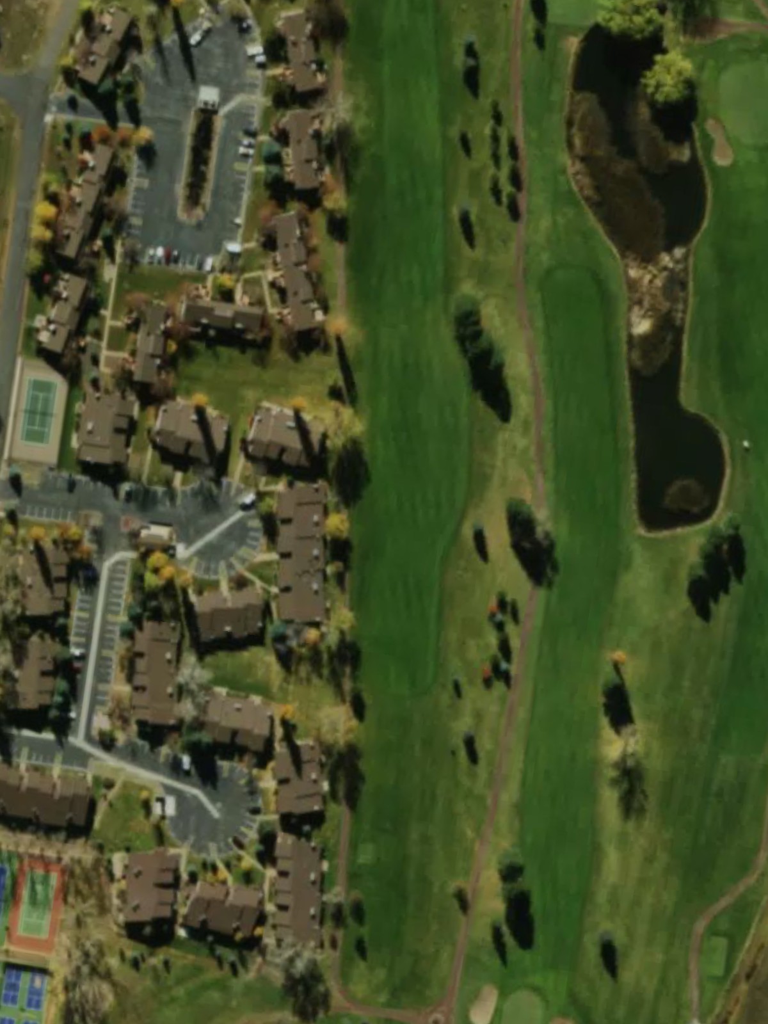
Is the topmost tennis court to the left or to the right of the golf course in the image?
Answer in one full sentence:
Looking at the picture, you'll find the topmost tennis court to the left of the golf course.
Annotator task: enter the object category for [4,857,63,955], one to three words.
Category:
tennis court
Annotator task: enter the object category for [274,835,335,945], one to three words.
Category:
house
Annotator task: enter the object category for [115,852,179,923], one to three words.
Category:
house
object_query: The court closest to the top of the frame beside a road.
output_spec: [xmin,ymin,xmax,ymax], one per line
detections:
[9,361,67,465]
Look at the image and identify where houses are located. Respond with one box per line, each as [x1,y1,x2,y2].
[30,270,88,351]
[274,835,335,945]
[273,211,330,330]
[279,8,329,91]
[184,882,263,941]
[47,140,114,258]
[201,678,274,747]
[5,637,60,706]
[115,852,179,923]
[0,764,92,831]
[245,395,330,469]
[276,743,334,812]
[72,2,131,83]
[194,587,268,650]
[286,108,334,189]
[151,386,229,459]
[130,302,180,387]
[13,542,72,614]
[277,482,339,620]
[133,620,191,721]
[182,300,264,340]
[68,391,134,465]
